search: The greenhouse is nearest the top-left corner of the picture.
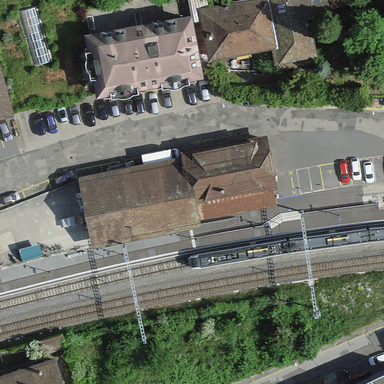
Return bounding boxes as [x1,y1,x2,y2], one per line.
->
[20,6,53,66]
